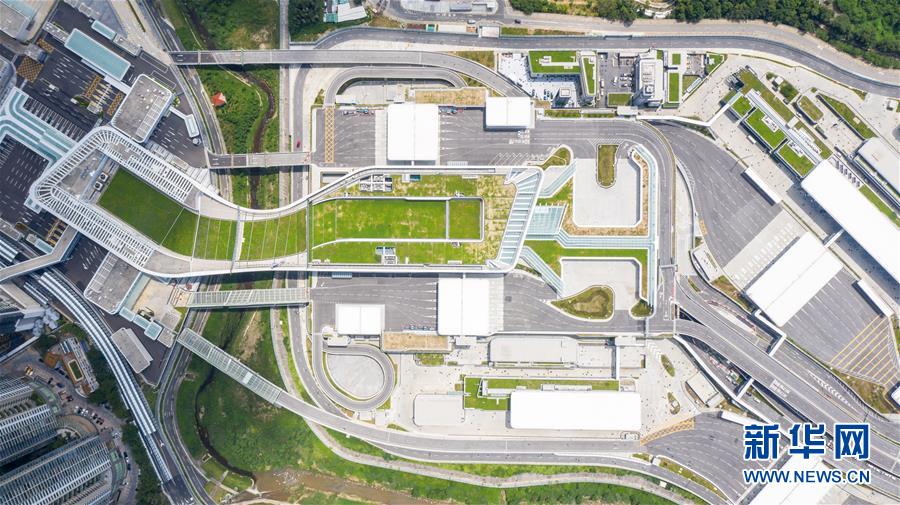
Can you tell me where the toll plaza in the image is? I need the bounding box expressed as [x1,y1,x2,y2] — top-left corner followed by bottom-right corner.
[649,120,784,269]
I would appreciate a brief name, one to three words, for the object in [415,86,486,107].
building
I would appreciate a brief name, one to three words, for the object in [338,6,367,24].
shed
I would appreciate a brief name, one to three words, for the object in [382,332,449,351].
building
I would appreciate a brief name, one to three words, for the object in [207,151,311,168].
bridge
